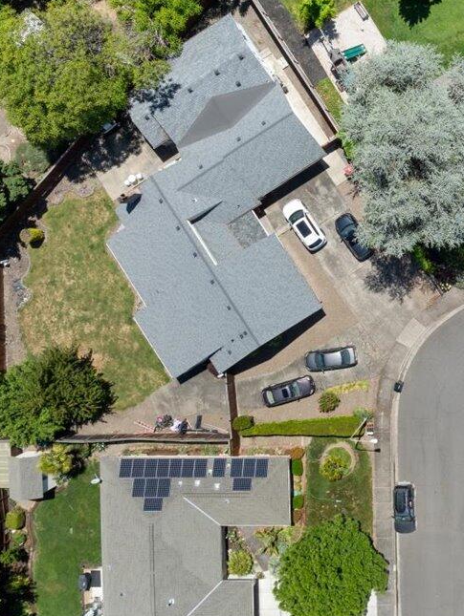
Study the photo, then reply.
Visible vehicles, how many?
5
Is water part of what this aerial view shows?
No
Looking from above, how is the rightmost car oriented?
from top to bottom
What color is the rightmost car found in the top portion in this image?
black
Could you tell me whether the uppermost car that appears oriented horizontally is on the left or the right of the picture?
right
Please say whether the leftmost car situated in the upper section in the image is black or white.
white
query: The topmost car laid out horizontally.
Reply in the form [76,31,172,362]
[303,346,358,374]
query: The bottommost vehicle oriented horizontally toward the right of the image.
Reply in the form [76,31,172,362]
[258,377,316,409]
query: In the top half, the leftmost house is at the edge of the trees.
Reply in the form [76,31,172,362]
[105,13,327,377]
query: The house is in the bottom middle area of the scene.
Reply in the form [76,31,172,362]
[100,454,299,616]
